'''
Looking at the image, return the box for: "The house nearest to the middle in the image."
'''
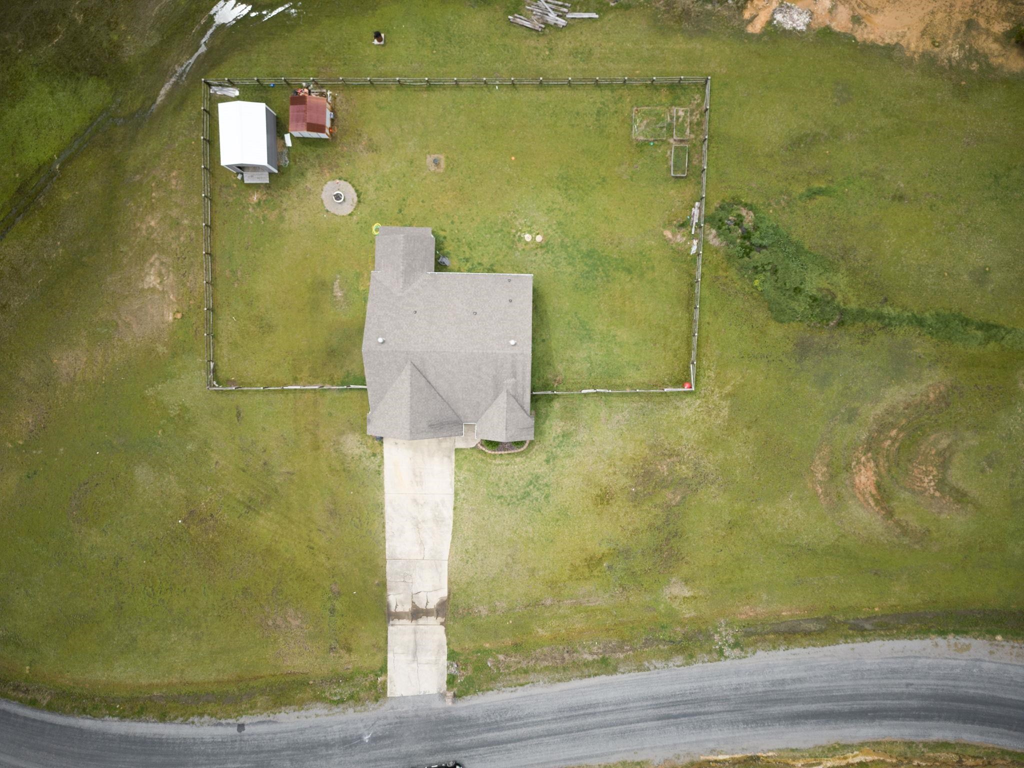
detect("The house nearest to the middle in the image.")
[362,227,534,441]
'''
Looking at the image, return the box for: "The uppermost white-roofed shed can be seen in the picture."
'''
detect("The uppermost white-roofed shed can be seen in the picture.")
[218,100,277,173]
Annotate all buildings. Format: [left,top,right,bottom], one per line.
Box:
[289,95,331,139]
[218,100,277,173]
[362,227,534,441]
